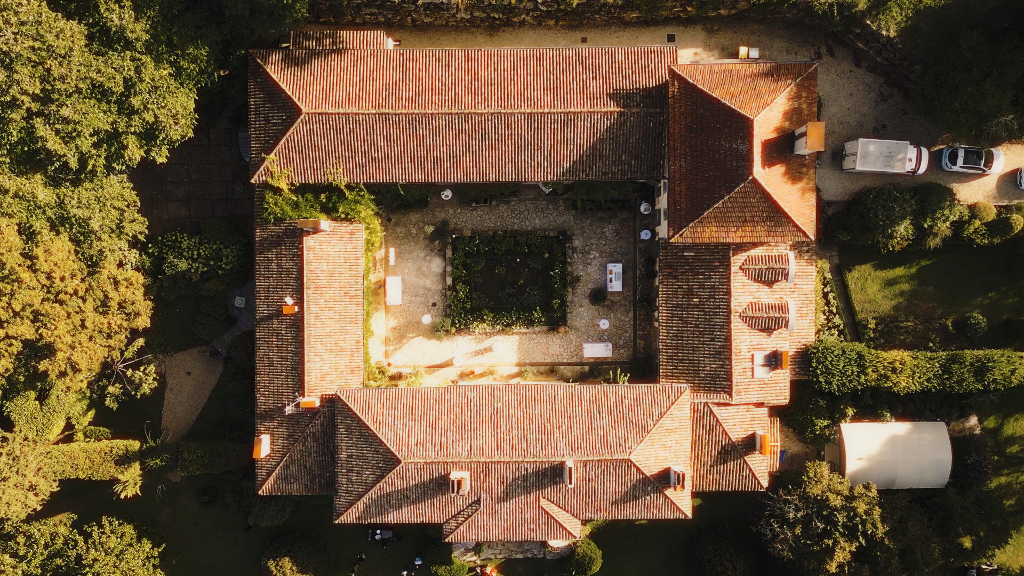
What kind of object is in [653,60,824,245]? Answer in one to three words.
house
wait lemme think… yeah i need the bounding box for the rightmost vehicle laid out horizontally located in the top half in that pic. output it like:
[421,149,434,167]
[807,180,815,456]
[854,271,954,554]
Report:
[936,144,1003,176]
